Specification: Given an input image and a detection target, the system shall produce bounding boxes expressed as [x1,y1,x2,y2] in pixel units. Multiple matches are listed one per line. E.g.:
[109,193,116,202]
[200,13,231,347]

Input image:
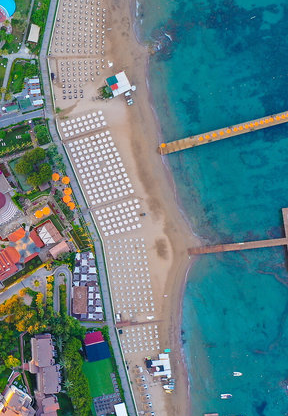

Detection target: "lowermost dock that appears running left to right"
[188,238,284,255]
